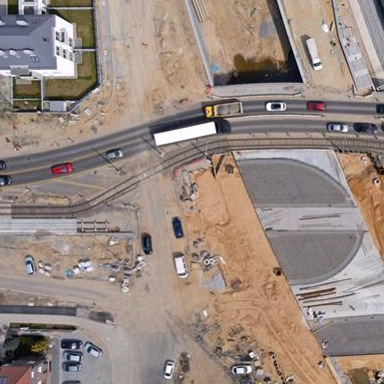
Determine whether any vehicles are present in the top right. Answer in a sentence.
Yes, the scene does show a vehicle in the top right.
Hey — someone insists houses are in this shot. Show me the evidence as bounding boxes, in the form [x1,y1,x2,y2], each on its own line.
[0,15,82,81]
[0,360,51,384]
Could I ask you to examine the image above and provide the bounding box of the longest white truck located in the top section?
[155,116,238,145]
